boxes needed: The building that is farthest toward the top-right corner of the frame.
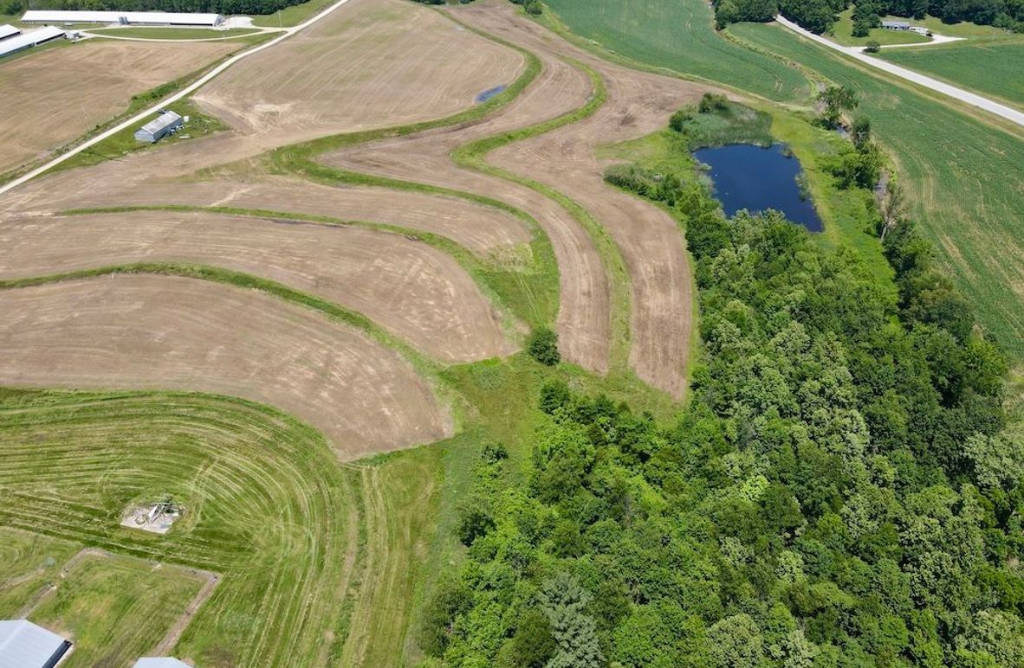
[875,17,913,34]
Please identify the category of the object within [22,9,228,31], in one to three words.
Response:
barn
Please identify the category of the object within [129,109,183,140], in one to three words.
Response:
shed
